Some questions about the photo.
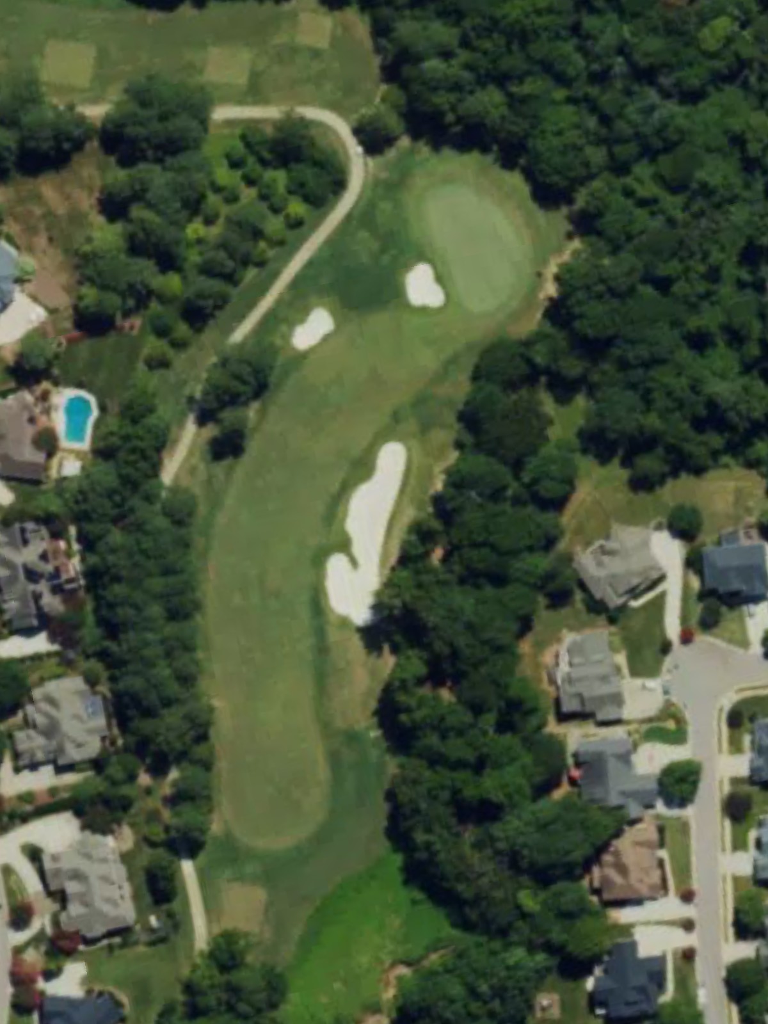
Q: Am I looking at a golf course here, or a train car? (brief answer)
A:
golf course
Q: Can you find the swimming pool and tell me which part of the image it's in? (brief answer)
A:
left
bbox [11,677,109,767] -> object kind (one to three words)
house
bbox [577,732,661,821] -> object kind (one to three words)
house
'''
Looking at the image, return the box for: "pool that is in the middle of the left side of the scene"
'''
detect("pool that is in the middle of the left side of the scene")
[51,387,98,449]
